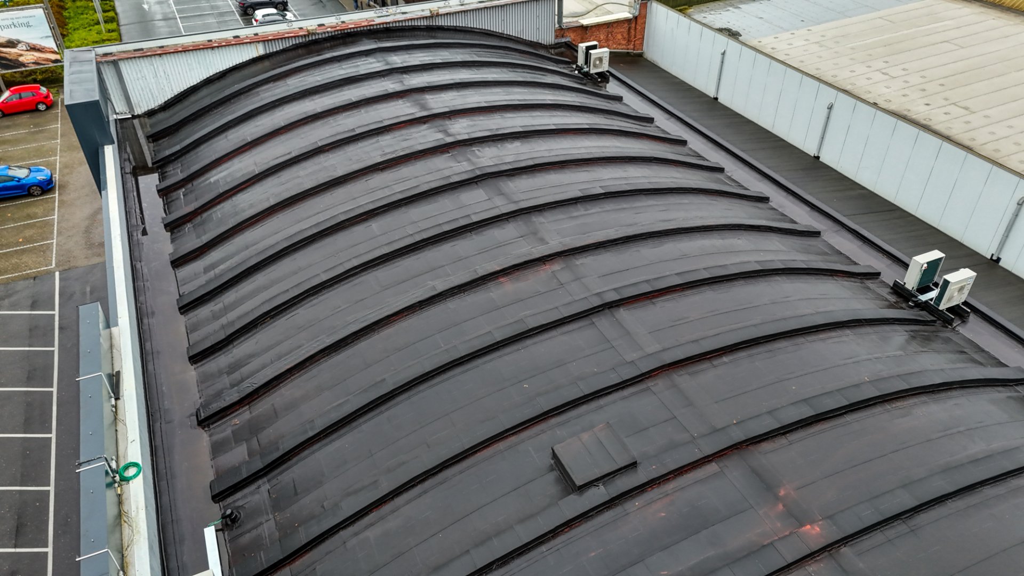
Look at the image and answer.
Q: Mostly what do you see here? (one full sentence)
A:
The largest share of the image is taken up by buildings.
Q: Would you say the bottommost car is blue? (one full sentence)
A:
Yes, the bottommost car is blue.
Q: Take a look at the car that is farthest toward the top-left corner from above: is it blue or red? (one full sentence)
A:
The color of the car that is farthest toward the top-left corner is red.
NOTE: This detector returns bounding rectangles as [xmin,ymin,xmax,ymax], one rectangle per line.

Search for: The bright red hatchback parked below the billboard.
[0,83,51,116]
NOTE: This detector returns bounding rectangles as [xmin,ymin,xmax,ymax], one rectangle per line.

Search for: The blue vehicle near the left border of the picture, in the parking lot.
[0,164,55,200]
